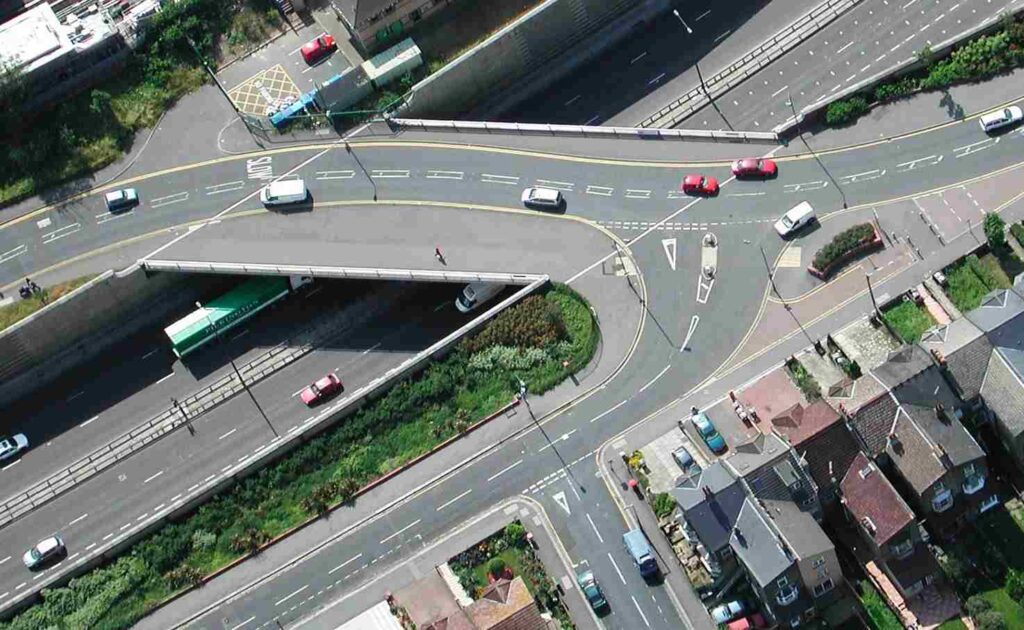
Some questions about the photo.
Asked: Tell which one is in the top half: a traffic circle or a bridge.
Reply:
bridge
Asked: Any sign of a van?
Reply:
Yes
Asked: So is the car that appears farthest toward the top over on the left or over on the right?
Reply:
left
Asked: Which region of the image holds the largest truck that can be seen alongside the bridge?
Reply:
left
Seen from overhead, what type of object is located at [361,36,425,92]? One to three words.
building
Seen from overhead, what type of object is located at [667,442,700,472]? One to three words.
car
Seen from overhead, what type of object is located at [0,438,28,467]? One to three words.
car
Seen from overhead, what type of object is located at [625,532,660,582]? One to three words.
van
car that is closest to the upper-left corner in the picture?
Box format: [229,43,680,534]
[106,189,139,210]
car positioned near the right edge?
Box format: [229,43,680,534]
[979,106,1024,131]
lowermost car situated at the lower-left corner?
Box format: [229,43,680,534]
[26,539,65,568]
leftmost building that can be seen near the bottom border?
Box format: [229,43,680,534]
[333,600,405,630]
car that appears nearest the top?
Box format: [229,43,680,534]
[300,35,336,59]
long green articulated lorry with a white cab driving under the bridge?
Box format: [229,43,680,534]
[166,272,311,358]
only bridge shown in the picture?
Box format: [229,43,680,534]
[142,114,788,287]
